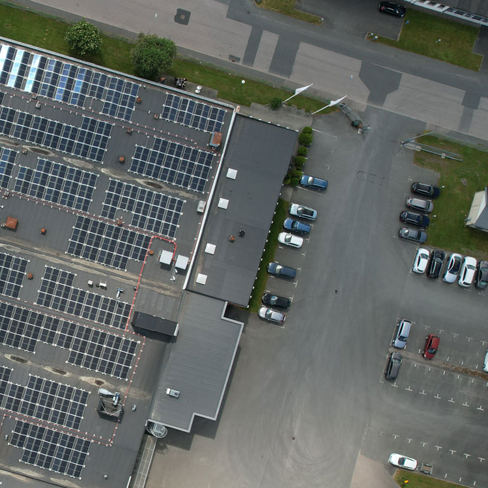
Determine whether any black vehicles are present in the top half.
Yes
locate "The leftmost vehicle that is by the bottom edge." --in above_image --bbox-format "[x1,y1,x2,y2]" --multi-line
[388,452,420,471]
